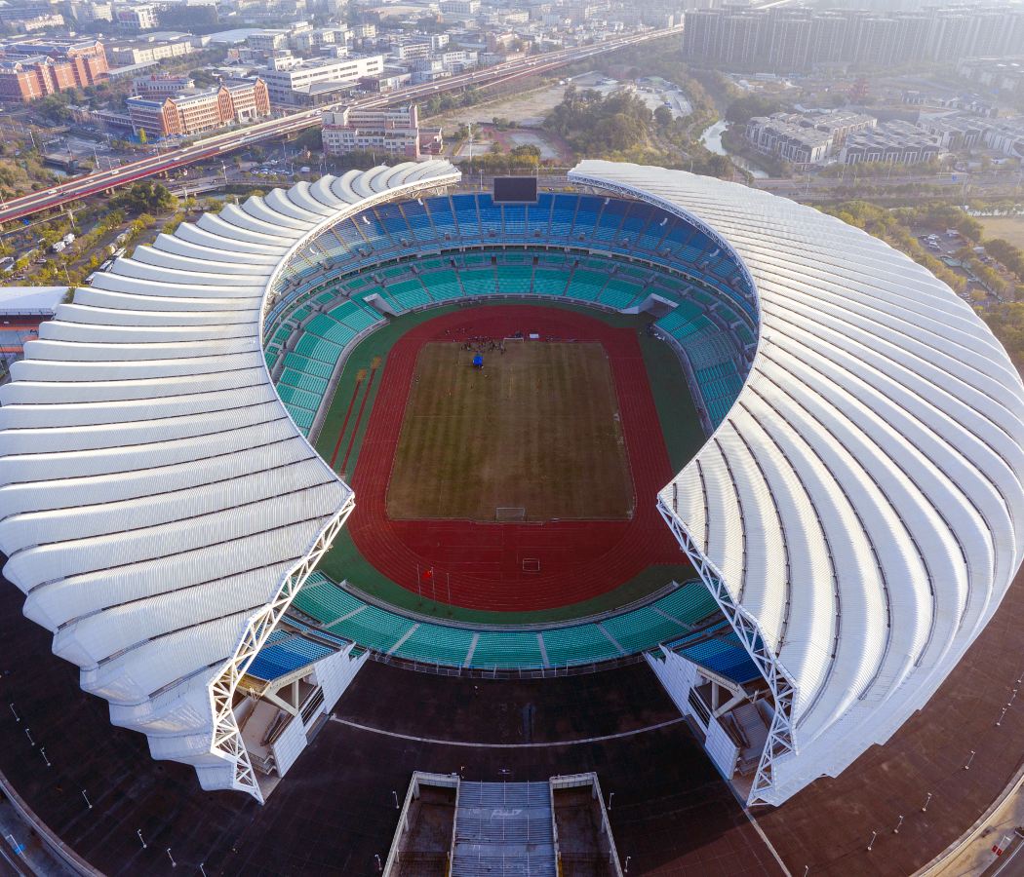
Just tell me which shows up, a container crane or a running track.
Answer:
running track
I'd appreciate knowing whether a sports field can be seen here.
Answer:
Yes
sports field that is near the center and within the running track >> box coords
[387,341,631,520]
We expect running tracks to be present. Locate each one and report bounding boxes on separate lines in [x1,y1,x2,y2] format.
[350,305,690,612]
